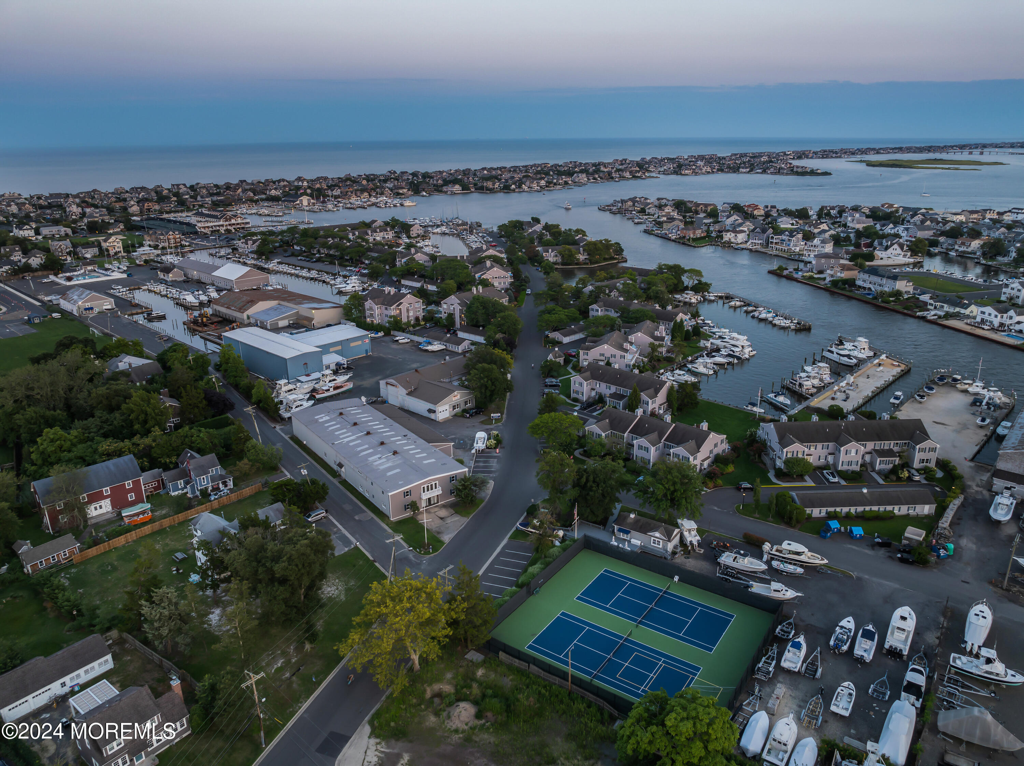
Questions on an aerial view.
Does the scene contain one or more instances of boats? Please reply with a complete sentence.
Yes, there's a boat down there.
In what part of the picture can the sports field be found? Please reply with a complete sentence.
The sports field appears toward the left of the photo.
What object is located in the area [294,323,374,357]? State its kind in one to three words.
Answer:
shed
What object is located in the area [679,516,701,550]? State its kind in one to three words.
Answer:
boat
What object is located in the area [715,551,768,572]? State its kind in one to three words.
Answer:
boat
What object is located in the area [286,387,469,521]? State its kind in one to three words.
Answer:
building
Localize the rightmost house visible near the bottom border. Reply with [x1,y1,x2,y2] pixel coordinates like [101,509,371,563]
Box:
[76,670,195,766]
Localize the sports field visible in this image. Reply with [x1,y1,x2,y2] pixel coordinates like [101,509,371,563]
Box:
[0,314,102,370]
